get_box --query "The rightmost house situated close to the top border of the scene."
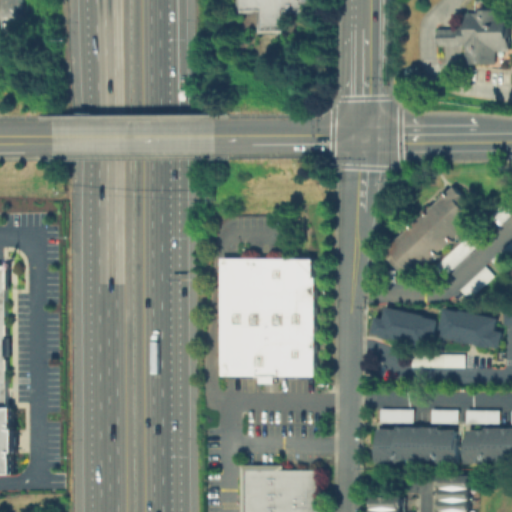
[464,10,510,64]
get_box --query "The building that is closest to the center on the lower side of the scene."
[220,258,314,386]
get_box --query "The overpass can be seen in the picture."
[39,113,219,158]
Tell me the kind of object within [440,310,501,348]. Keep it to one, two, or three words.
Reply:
building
